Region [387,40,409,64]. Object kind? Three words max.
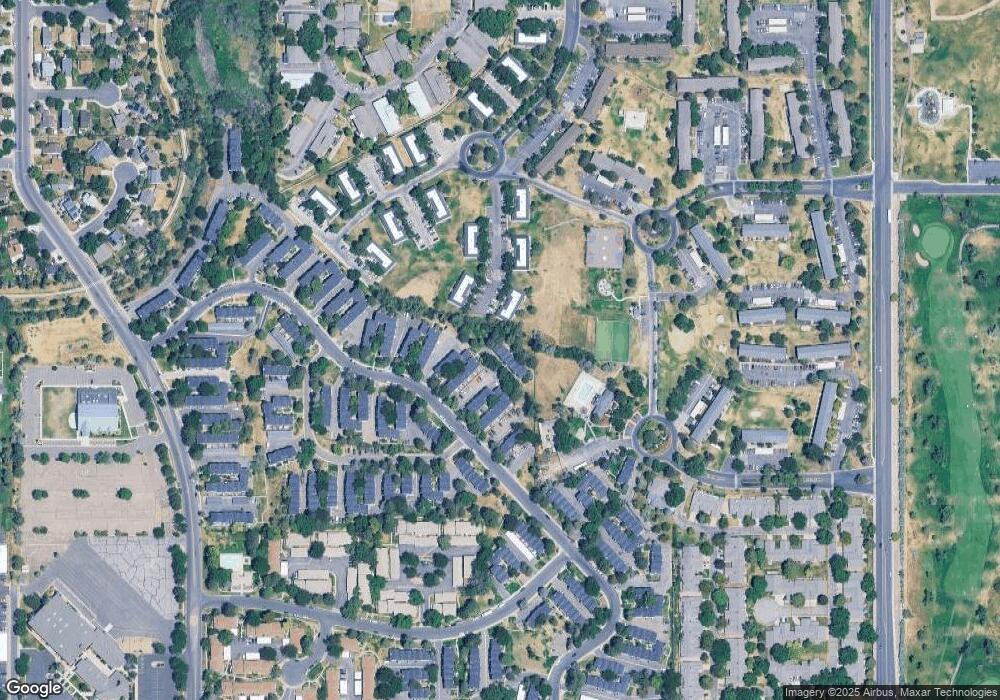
building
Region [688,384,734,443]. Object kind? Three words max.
building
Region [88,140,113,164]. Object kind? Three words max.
house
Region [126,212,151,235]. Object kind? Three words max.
house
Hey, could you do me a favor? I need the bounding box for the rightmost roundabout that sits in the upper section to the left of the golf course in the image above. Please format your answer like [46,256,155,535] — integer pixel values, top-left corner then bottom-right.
[631,207,679,255]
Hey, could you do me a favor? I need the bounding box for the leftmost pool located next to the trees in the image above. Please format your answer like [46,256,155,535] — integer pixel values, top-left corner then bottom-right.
[219,552,251,569]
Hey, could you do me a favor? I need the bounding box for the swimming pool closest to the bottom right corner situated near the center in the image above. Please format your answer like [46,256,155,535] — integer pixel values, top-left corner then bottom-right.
[564,372,605,416]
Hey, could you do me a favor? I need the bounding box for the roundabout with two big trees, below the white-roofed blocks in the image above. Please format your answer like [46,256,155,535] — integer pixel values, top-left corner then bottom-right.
[460,133,506,180]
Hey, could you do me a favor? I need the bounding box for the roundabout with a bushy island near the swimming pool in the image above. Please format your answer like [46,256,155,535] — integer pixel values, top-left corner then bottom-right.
[630,413,679,461]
